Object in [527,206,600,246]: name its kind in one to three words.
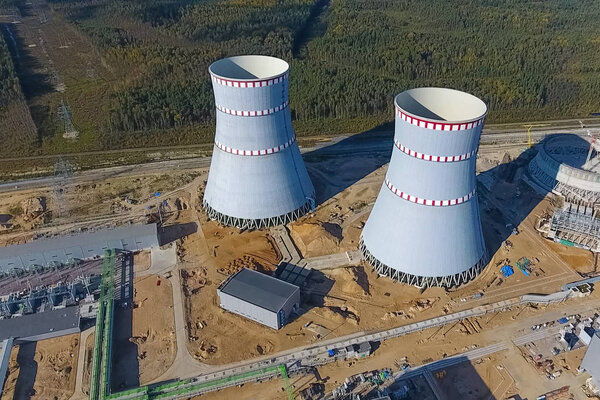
building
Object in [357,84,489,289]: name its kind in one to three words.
cooling tower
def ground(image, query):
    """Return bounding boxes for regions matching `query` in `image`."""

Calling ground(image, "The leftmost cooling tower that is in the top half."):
[203,53,315,230]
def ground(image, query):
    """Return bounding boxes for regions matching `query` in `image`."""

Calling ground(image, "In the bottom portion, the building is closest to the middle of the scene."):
[216,268,297,329]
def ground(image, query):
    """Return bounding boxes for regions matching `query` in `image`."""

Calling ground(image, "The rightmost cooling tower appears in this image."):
[526,132,600,207]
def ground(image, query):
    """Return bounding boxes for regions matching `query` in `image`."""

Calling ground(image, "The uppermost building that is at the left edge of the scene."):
[0,221,159,269]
